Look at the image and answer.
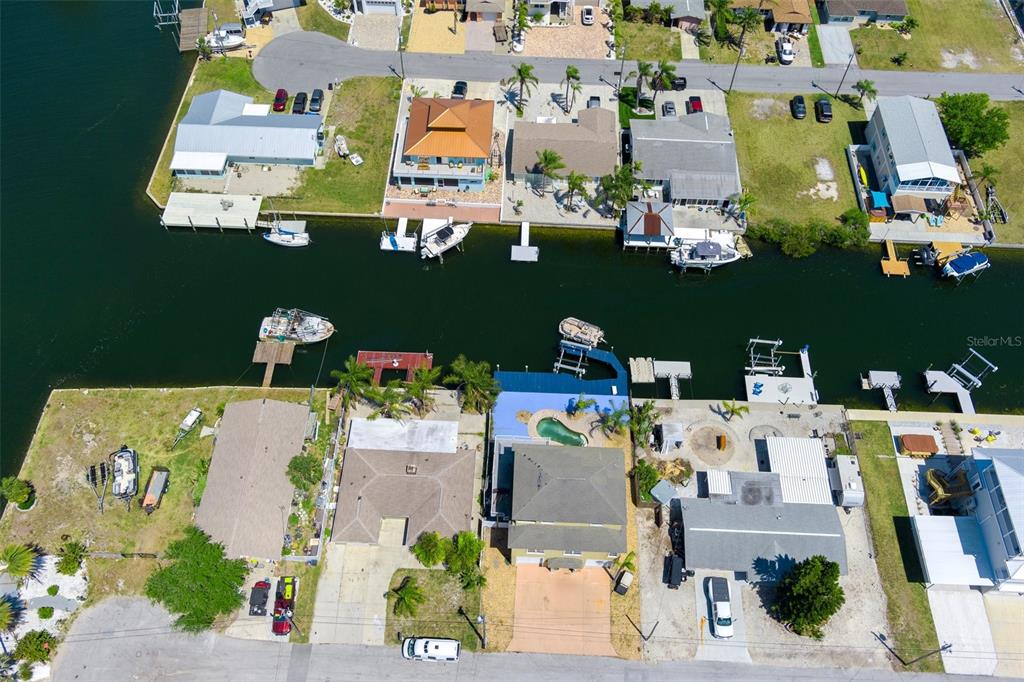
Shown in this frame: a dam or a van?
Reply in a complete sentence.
Visible in the photo is a van.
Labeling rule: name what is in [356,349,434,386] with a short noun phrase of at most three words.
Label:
pier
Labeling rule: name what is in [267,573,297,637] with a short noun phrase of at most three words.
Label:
truck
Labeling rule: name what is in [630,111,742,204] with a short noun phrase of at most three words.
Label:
house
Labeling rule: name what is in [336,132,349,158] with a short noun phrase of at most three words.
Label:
boat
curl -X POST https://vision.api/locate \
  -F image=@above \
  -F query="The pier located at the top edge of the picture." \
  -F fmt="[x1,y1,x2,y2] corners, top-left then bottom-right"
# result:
[177,4,208,57]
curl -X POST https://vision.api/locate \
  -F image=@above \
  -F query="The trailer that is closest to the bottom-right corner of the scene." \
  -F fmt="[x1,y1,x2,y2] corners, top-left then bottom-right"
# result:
[827,455,864,514]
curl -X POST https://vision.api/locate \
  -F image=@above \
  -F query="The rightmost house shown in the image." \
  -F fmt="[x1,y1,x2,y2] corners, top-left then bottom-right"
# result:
[952,448,1024,594]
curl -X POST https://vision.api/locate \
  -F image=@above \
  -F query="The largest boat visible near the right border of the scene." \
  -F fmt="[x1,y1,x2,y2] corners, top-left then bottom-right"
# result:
[938,252,995,277]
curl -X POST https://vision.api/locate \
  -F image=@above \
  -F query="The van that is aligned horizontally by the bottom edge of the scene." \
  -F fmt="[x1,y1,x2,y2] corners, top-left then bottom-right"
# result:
[400,633,461,661]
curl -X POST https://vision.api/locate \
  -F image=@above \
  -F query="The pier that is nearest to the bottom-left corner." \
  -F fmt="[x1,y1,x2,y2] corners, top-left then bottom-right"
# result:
[250,338,298,386]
